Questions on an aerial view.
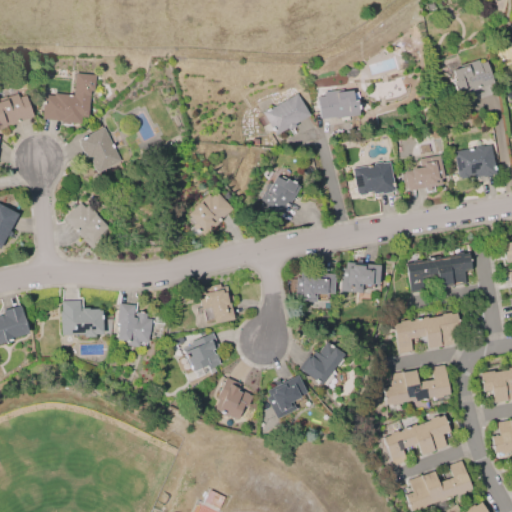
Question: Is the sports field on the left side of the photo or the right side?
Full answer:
It is on the left.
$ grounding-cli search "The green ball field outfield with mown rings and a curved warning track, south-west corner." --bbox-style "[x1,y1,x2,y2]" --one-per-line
[0,403,179,512]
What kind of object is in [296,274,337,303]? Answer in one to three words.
house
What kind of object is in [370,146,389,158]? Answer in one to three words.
swimming pool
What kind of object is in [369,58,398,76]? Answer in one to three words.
swimming pool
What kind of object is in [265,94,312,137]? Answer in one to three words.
house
